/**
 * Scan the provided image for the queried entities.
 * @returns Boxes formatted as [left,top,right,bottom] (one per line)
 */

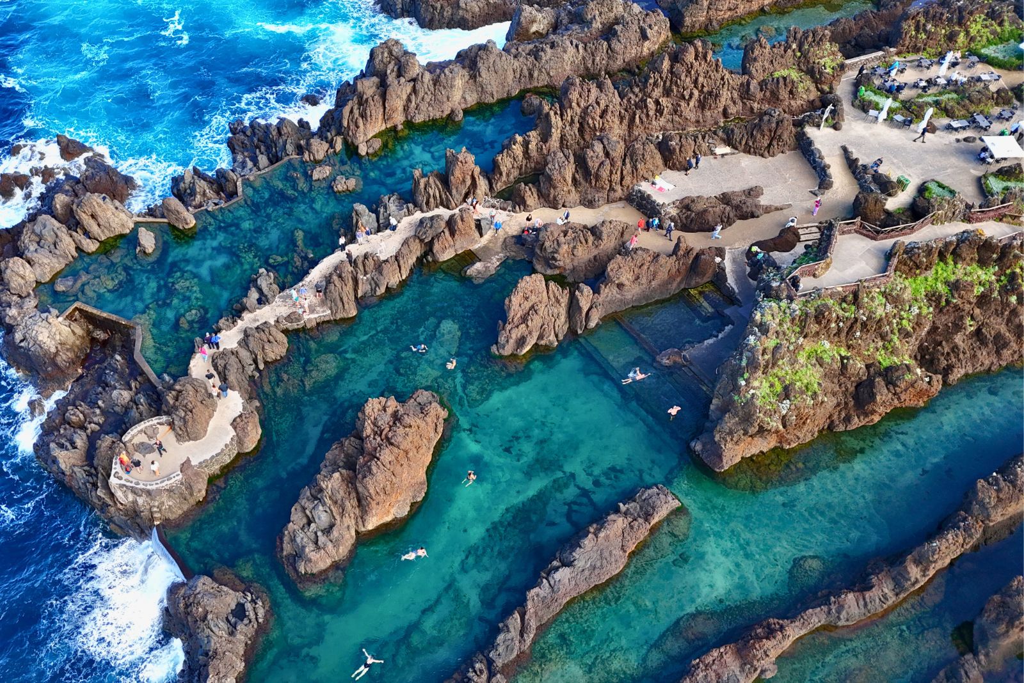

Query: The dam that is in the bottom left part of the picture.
[151,526,187,578]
